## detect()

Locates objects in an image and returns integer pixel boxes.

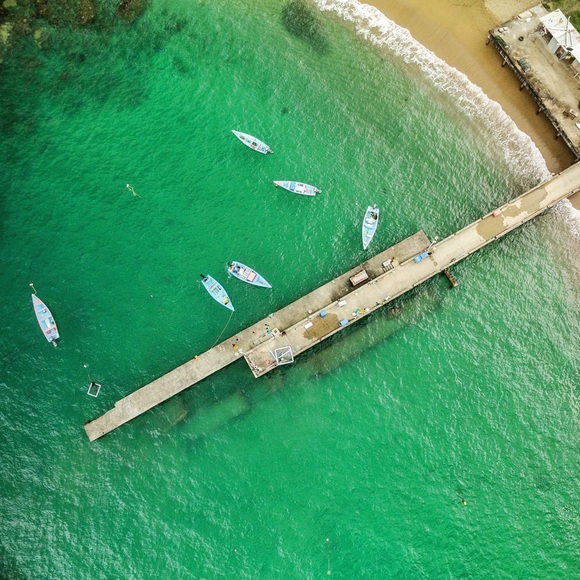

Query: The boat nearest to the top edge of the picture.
[231,130,272,155]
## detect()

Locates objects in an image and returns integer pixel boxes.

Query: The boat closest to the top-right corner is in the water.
[362,202,378,250]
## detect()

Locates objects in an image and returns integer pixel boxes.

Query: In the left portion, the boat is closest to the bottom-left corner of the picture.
[31,294,59,344]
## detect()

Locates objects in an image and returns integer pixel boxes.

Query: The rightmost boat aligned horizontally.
[274,180,321,195]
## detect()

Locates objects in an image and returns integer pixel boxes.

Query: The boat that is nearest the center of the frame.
[226,262,271,288]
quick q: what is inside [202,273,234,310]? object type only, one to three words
boat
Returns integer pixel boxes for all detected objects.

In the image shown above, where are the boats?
[226,262,271,288]
[202,273,234,310]
[231,130,272,155]
[362,202,378,250]
[274,180,321,195]
[31,294,59,344]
